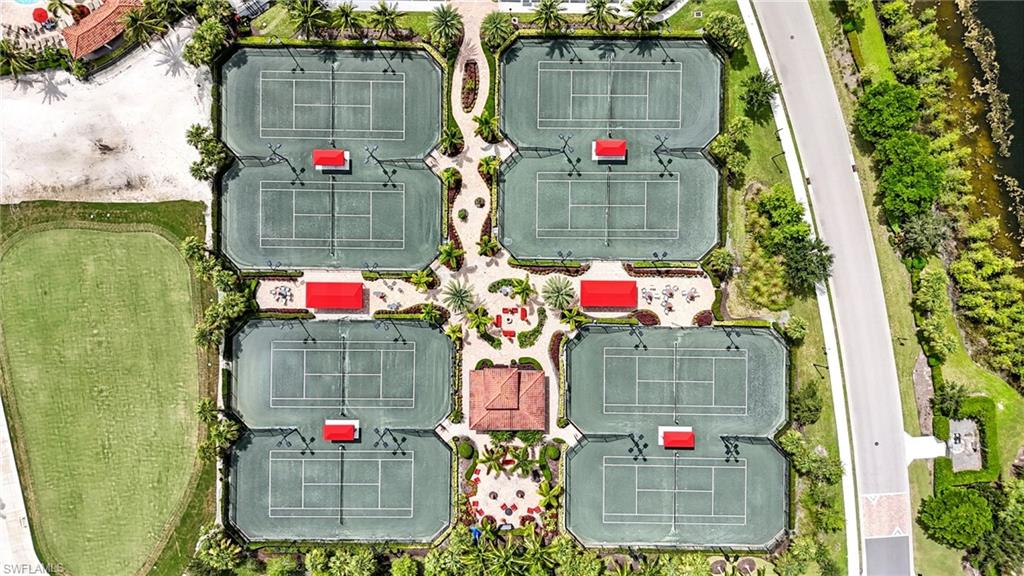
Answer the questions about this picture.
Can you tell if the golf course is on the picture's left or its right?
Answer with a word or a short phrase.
left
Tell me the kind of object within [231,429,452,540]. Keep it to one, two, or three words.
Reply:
tennis court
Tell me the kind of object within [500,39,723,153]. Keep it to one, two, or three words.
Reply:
tennis court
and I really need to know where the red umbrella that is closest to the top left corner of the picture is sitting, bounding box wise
[34,8,52,24]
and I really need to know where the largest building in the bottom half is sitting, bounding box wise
[469,368,545,430]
